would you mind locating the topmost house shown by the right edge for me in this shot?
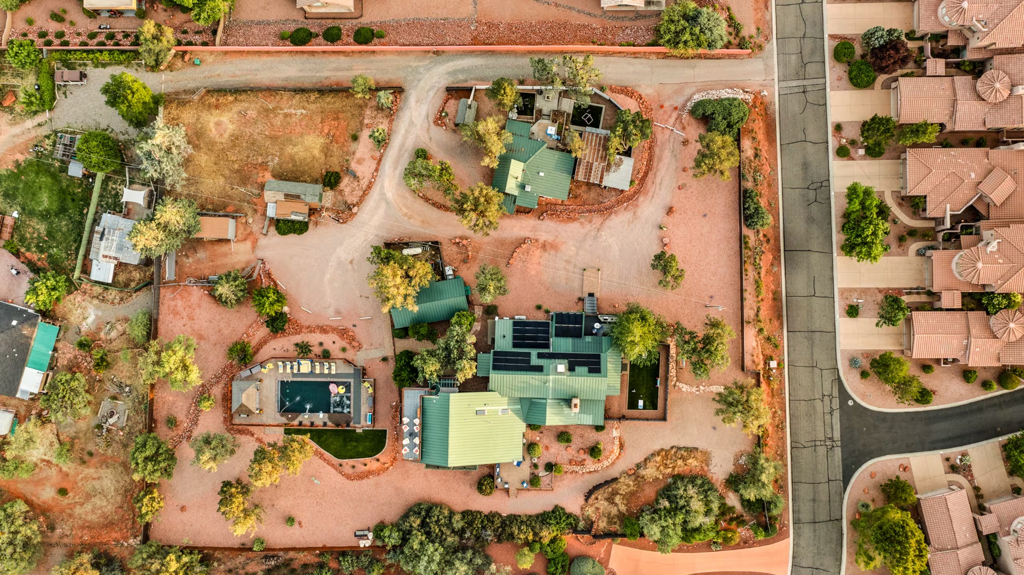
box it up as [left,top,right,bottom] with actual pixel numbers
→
[906,0,1024,64]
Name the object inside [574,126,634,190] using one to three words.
shed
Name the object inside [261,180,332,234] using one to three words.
barn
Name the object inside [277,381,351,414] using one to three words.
swimming pool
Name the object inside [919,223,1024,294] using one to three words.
house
